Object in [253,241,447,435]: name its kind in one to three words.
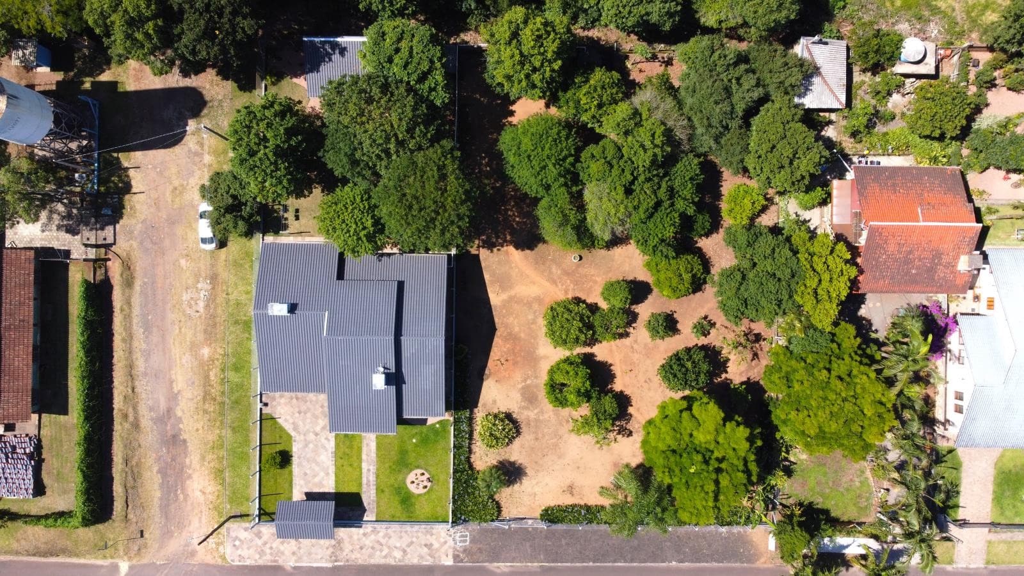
house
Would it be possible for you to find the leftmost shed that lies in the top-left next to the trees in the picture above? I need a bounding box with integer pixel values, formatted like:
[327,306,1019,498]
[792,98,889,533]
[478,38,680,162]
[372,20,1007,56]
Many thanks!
[11,38,52,72]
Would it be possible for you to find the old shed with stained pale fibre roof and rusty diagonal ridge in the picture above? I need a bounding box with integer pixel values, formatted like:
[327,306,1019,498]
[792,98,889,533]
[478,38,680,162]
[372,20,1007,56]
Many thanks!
[790,32,847,112]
